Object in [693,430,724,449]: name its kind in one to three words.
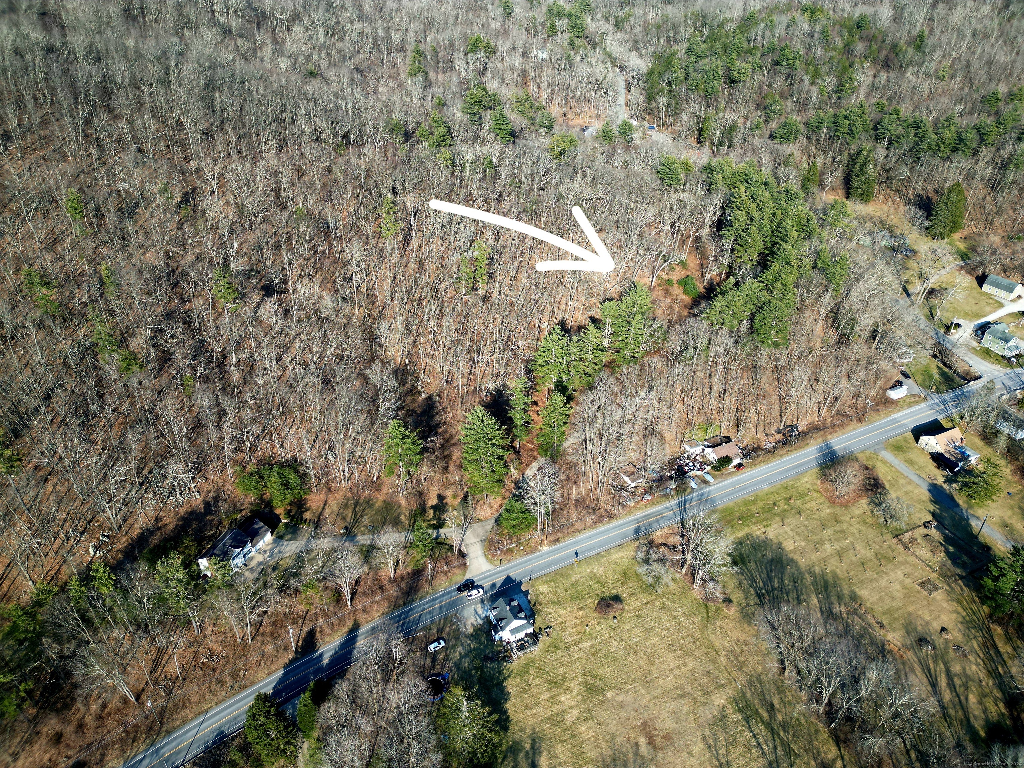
shed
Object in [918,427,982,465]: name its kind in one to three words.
house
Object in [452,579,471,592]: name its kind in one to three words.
vehicle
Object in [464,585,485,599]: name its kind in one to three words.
vehicle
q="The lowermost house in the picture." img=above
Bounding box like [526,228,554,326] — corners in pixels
[489,595,539,669]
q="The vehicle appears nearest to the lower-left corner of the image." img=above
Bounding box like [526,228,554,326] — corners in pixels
[426,638,446,653]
